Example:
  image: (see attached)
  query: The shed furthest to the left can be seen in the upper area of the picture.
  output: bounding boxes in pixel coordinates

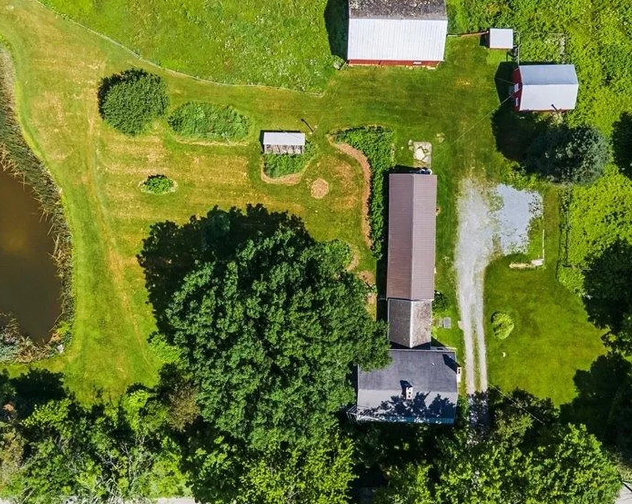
[263,132,305,153]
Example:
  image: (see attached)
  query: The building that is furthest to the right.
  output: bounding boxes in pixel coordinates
[504,64,580,114]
